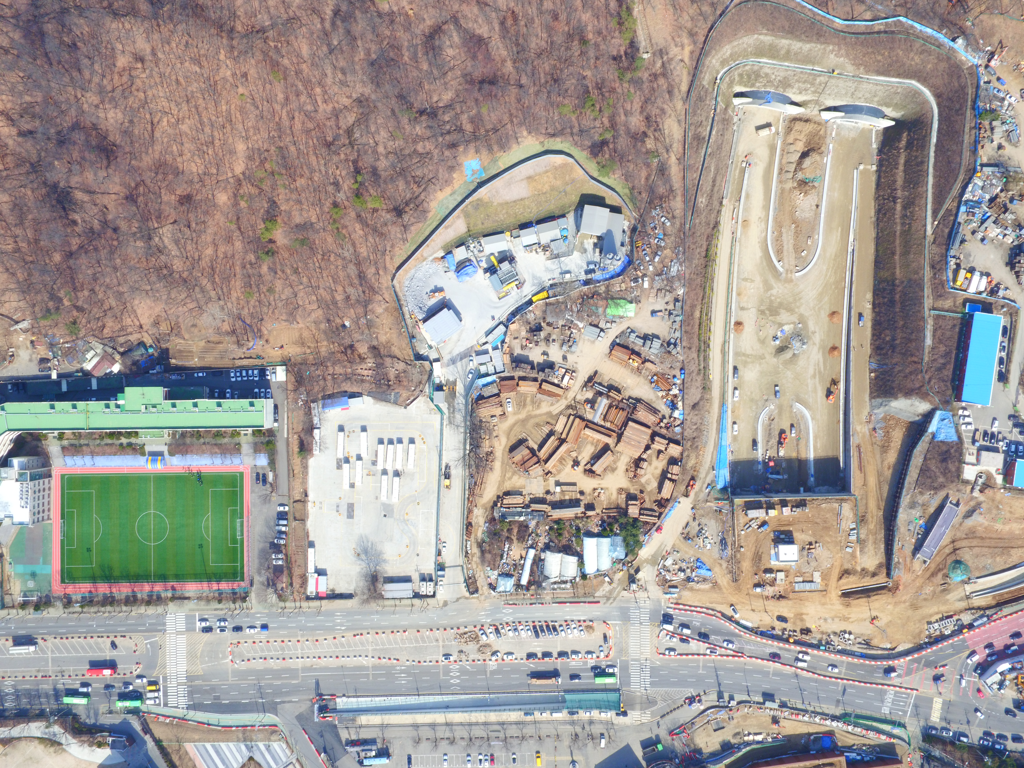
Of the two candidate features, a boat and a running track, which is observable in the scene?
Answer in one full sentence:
There is a running track in the scene.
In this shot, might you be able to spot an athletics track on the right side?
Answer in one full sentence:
No, I can find no athletics track on the right side.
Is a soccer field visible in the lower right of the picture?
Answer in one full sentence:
No, in the lower right of the picture there is no soccer field.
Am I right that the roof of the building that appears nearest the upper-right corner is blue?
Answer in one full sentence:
Yes, the roof of the building that appears nearest the upper-right corner appears blue.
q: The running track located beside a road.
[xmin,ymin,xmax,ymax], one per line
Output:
[52,465,250,594]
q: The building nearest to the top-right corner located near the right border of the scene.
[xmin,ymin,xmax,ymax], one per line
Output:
[953,302,1003,406]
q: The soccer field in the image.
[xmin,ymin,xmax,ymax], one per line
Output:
[60,472,244,584]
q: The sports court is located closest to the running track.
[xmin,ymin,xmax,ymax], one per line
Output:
[10,523,53,594]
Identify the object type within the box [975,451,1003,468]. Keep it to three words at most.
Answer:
shed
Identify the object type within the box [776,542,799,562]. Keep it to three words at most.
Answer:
building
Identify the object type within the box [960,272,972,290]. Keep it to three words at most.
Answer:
vehicle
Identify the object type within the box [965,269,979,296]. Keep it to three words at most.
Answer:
vehicle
